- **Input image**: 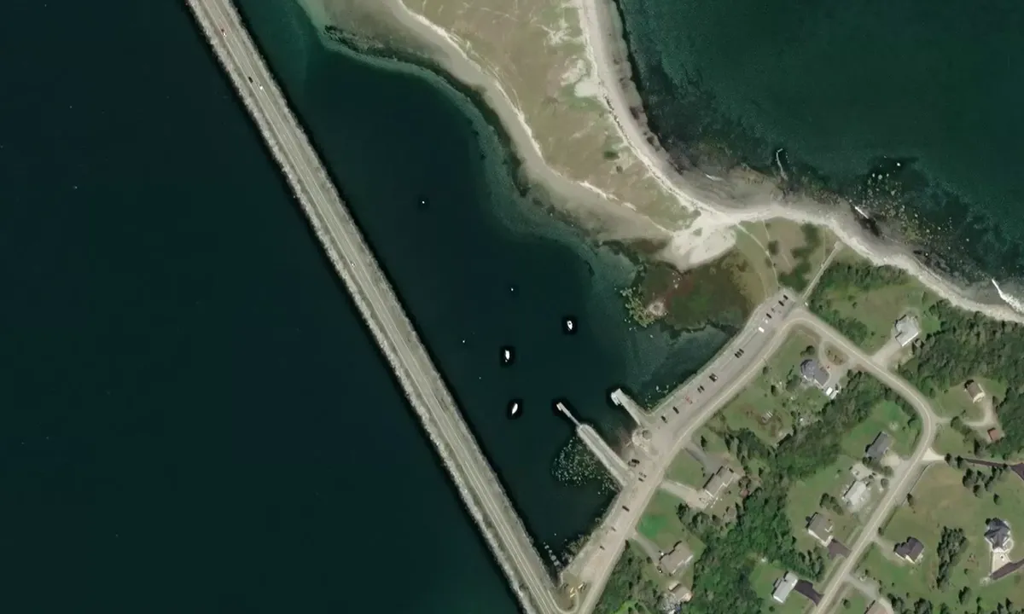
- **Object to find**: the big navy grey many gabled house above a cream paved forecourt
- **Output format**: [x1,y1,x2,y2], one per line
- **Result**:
[985,517,1012,552]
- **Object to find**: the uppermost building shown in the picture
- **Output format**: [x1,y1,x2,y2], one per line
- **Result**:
[895,316,919,348]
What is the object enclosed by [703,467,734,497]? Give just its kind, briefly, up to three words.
house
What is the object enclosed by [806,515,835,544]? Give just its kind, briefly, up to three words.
house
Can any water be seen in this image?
Yes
